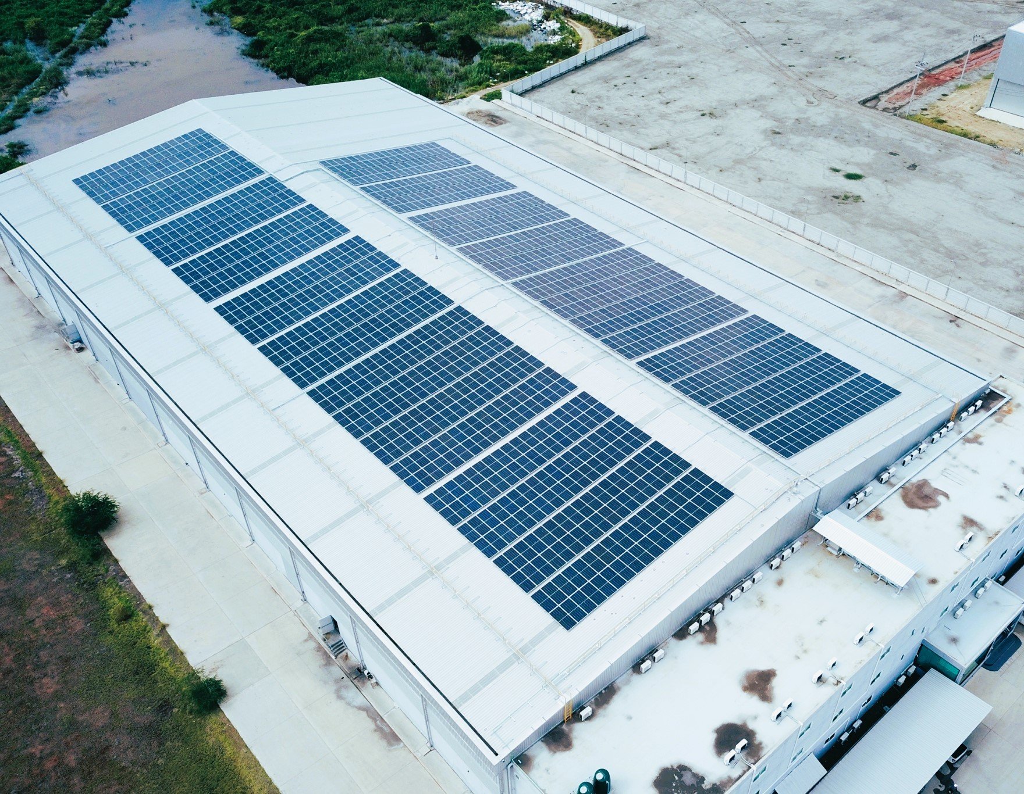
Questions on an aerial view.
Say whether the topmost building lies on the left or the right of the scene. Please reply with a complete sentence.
The topmost building is on the right side of the image.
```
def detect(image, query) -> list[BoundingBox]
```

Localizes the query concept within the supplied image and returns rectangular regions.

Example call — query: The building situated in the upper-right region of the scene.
[983,20,1024,116]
